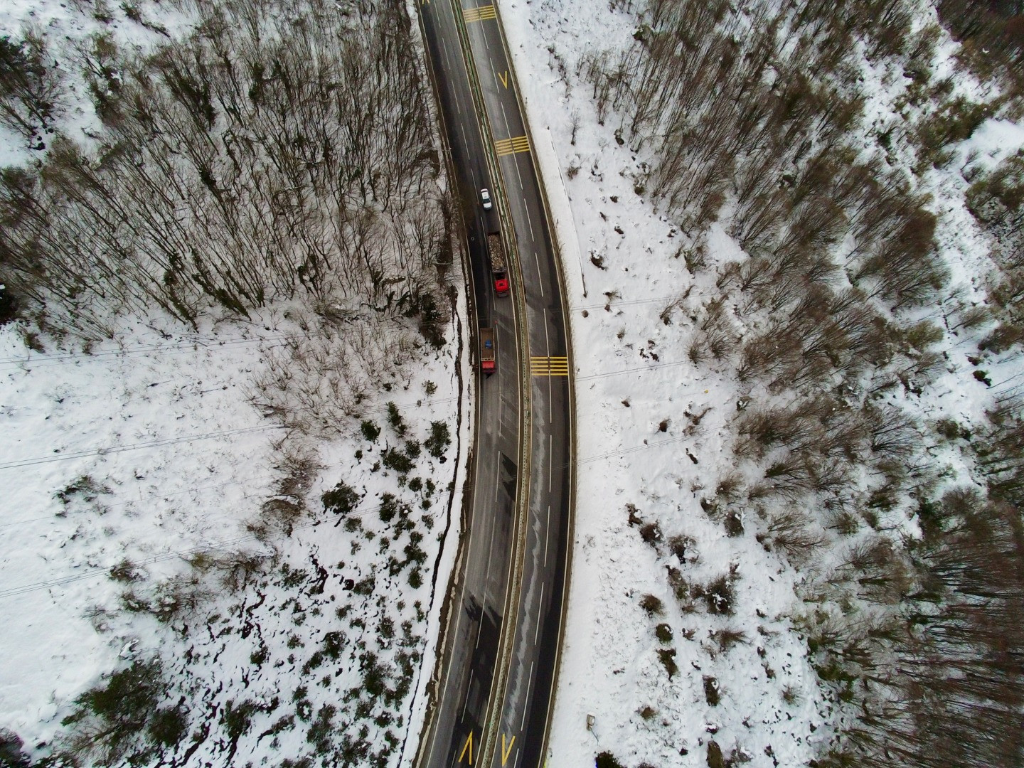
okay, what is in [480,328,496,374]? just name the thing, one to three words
vehicle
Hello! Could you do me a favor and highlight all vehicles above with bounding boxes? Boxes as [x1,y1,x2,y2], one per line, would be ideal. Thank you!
[481,190,492,211]
[488,232,510,299]
[480,328,496,374]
